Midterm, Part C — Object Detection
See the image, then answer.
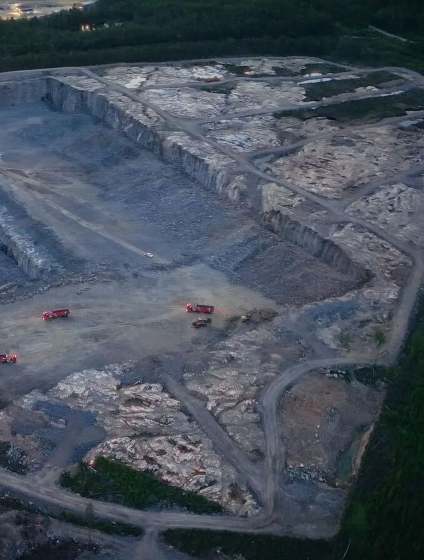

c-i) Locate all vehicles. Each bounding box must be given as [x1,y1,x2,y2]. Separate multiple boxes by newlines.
[188,303,214,314]
[44,308,69,320]
[190,317,210,328]
[240,310,262,322]
[0,353,15,363]
[144,252,153,258]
